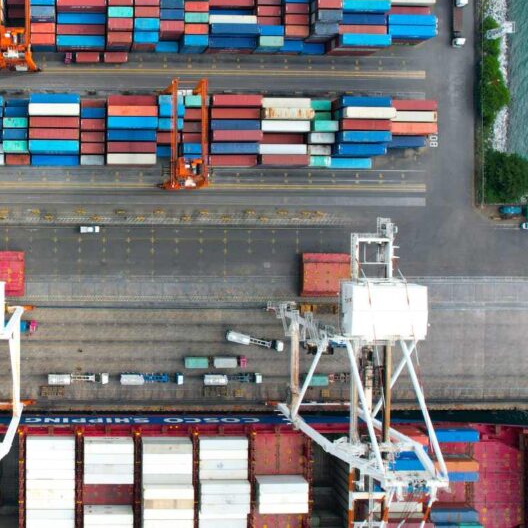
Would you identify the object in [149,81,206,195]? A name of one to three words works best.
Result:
container crane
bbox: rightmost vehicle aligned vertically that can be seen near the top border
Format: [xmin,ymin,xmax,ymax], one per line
[451,0,466,47]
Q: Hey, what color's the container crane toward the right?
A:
white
